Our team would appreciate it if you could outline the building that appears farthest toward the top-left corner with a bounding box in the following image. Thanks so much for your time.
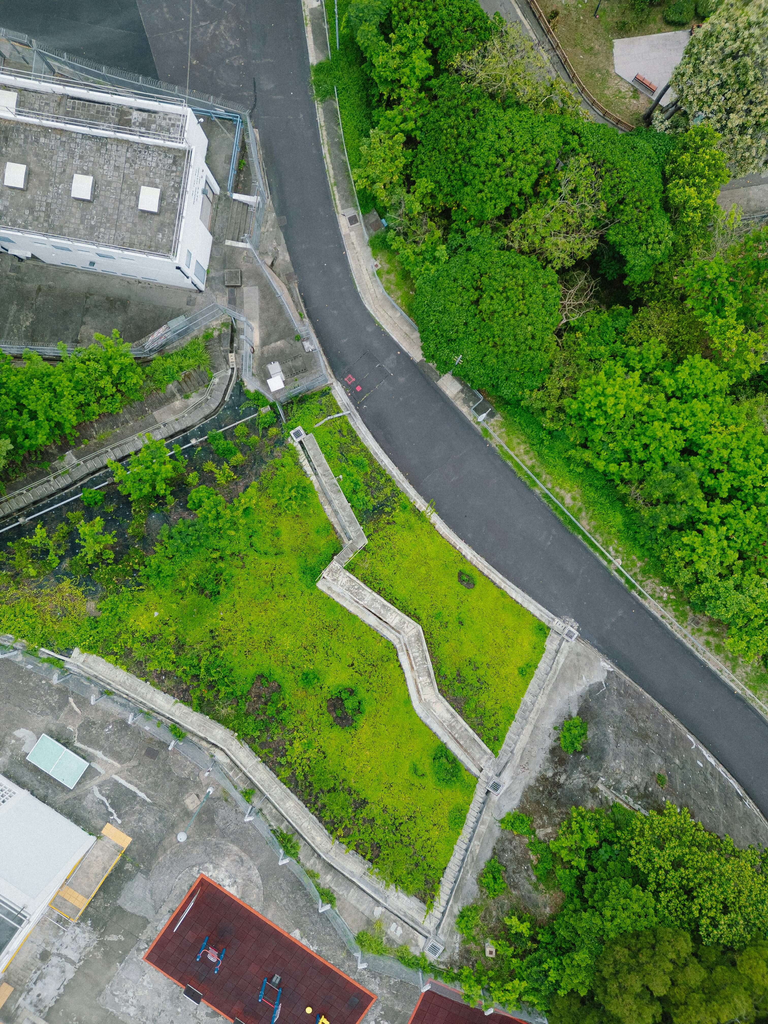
[0,68,220,293]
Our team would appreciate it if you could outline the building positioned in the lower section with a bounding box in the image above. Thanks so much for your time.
[0,768,101,958]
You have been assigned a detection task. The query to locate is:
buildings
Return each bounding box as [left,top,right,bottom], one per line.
[0,68,220,293]
[0,768,101,958]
